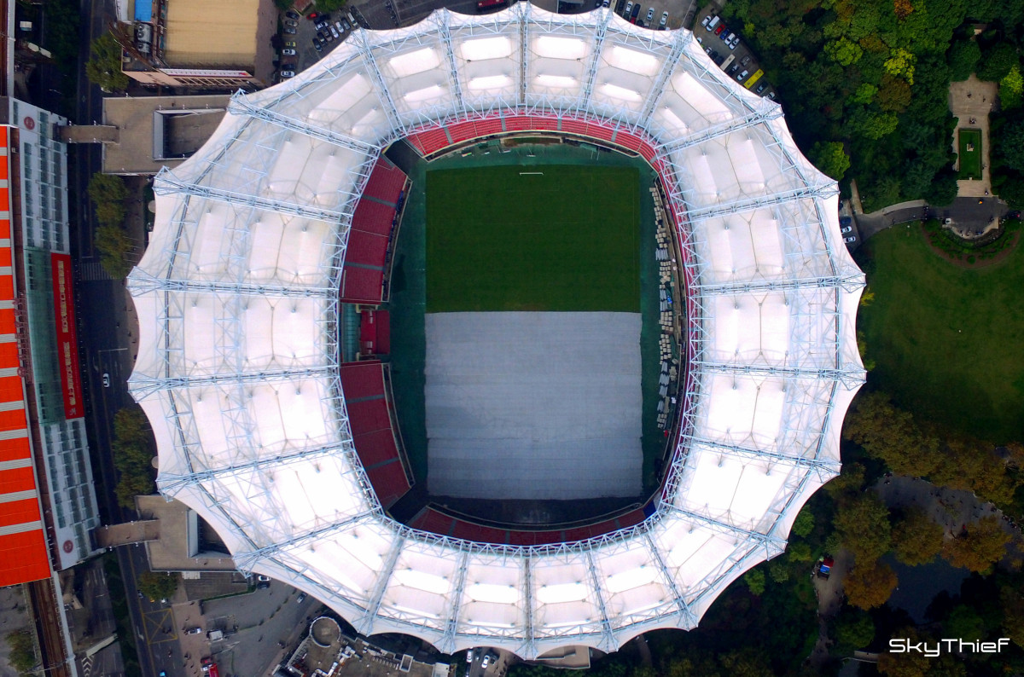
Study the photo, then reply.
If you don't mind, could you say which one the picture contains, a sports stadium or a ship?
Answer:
sports stadium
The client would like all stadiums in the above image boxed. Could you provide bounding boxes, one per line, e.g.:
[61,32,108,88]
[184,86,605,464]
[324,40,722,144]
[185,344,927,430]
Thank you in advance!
[127,1,866,657]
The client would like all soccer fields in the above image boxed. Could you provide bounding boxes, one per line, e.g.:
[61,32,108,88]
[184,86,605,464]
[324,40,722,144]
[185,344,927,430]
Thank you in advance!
[357,142,678,521]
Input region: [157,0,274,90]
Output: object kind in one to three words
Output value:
building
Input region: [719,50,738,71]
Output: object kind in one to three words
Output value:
vehicle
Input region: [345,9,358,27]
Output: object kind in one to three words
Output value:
vehicle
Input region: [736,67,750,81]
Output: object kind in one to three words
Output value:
car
